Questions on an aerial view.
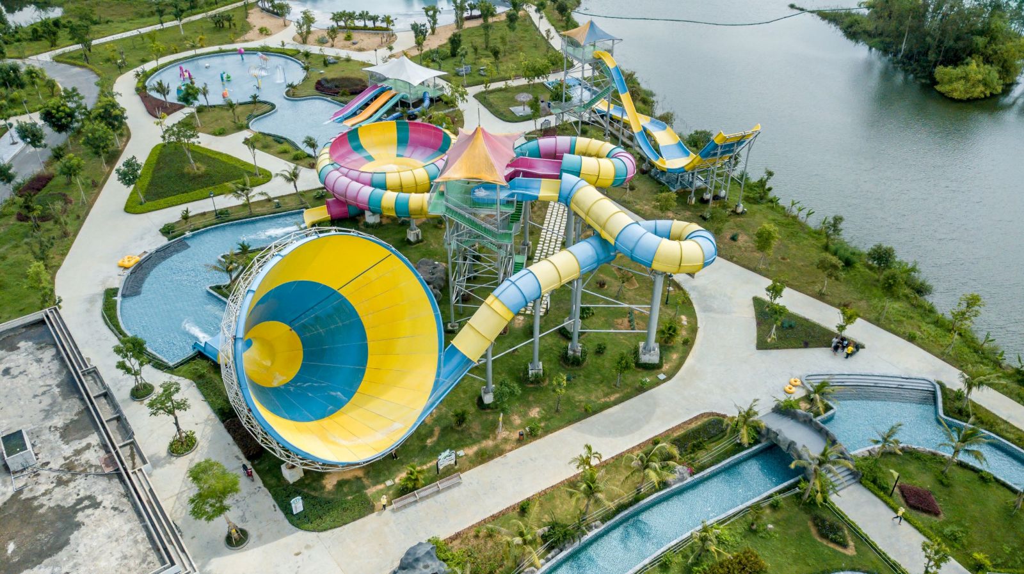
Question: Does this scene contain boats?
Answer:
No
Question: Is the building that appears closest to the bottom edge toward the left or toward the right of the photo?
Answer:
left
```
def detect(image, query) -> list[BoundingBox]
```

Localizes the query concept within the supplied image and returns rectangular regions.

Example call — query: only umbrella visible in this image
[512,92,535,110]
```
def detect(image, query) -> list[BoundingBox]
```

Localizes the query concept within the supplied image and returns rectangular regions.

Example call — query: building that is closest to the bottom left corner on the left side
[0,304,203,574]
